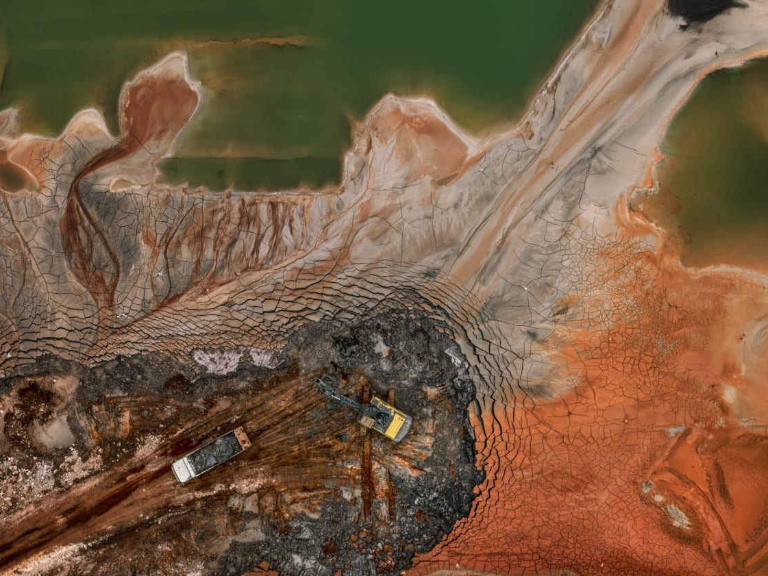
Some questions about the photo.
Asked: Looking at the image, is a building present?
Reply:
No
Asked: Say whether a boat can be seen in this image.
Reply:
No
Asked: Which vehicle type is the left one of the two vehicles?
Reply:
truck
